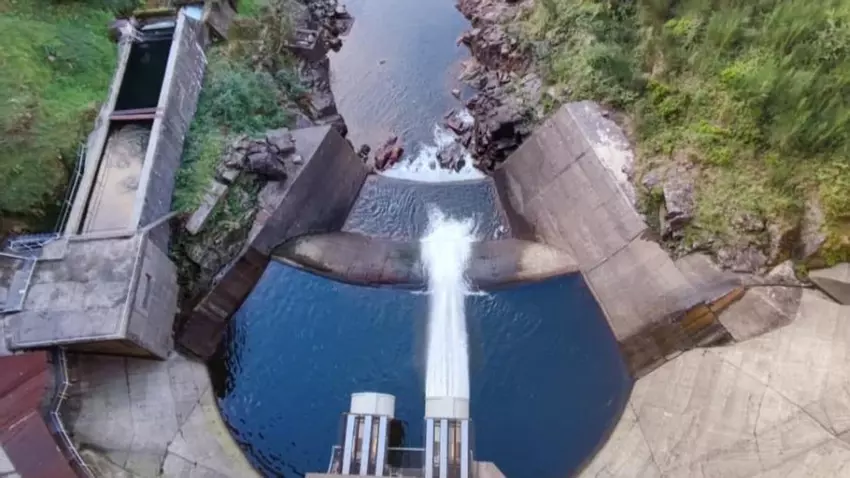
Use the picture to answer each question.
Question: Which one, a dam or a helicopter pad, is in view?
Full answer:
There is a dam in the scene.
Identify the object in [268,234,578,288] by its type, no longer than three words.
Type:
dam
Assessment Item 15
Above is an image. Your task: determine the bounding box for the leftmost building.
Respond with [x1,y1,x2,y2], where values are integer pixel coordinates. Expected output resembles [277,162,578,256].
[0,352,85,478]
